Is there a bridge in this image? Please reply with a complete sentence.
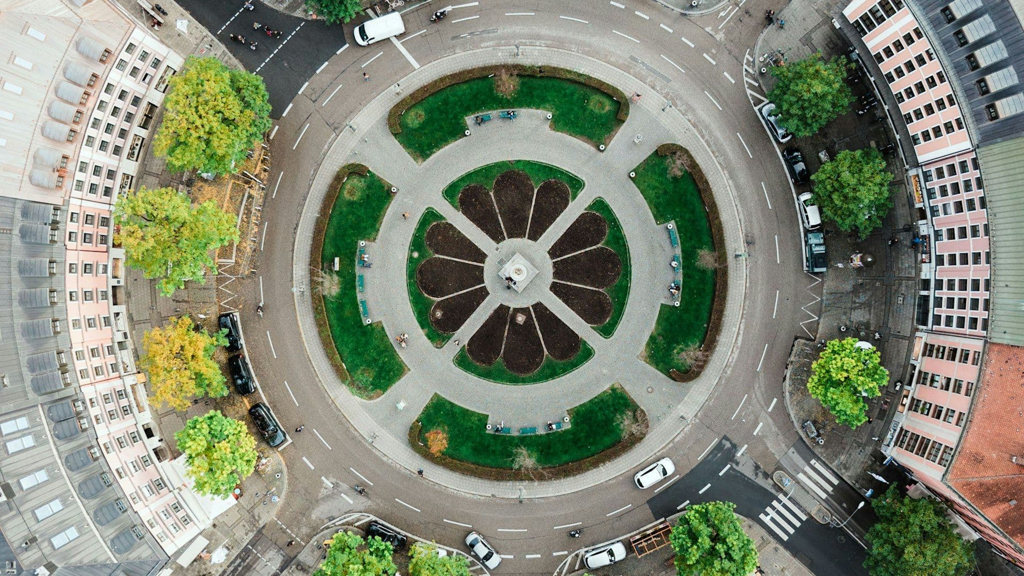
No, the scene contains no bridge.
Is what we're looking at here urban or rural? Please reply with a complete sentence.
This place is urban.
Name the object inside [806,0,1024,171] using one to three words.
house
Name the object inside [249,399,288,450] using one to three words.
car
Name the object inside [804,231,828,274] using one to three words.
truck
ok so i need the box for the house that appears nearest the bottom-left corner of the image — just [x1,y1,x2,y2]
[0,373,236,576]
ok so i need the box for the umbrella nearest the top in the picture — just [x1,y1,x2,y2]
[177,18,193,35]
